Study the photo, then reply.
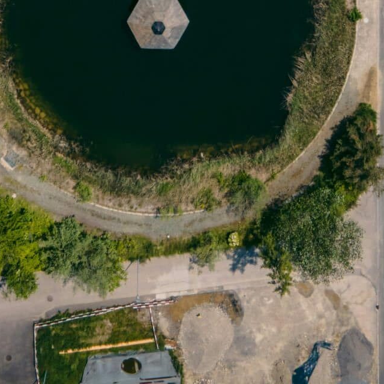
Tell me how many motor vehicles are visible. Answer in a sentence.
I count no motor vehicles.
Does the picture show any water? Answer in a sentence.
Yes, water shows up in the scene.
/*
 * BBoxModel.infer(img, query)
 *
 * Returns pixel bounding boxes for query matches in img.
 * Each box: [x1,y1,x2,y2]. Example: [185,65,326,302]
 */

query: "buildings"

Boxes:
[127,0,190,49]
[82,340,190,384]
